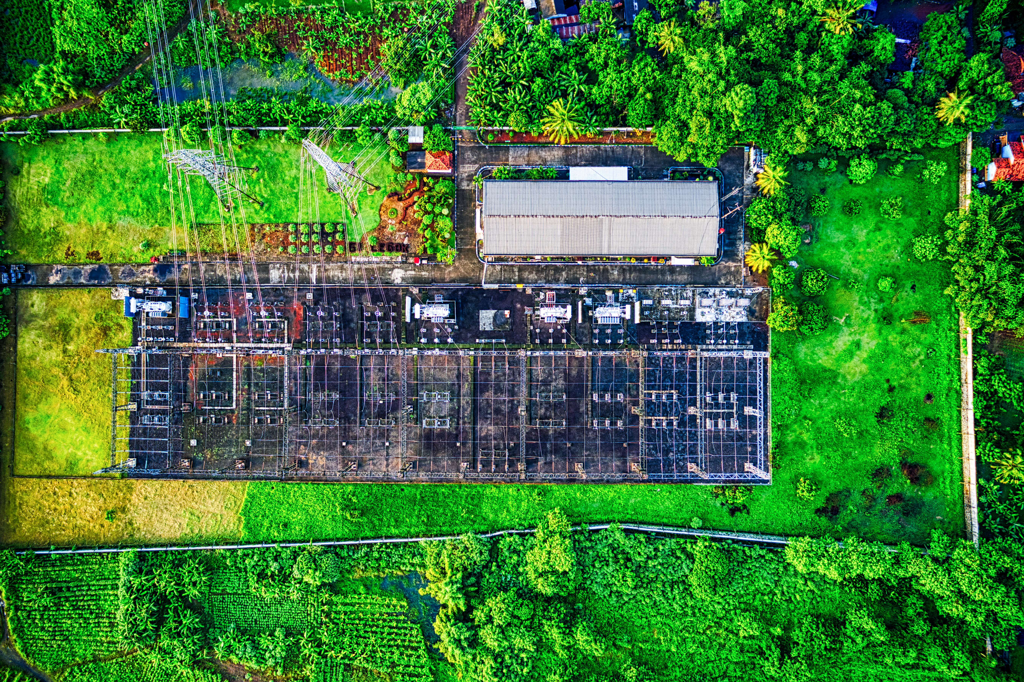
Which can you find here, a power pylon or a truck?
power pylon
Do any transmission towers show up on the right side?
No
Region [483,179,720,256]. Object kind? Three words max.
building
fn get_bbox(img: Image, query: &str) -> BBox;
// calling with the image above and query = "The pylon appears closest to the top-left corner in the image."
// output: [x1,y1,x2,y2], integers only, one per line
[161,150,264,212]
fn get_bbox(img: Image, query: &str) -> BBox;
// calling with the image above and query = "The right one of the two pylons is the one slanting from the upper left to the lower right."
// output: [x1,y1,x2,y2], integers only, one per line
[302,140,381,218]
